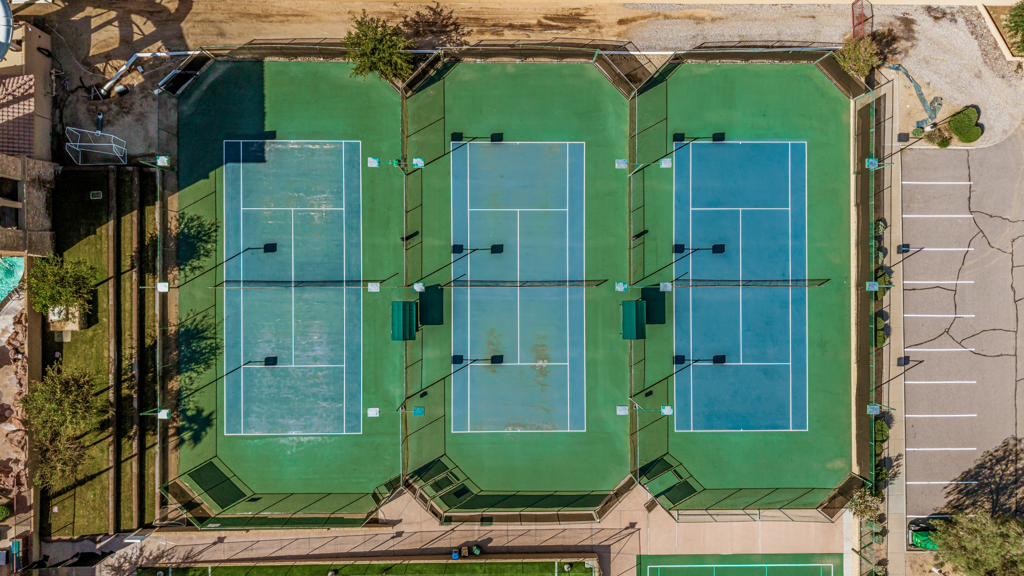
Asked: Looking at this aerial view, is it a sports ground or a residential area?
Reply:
sports ground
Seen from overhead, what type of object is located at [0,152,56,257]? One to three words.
building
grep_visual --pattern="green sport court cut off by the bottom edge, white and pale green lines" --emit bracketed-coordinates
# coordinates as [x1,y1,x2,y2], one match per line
[636,554,844,576]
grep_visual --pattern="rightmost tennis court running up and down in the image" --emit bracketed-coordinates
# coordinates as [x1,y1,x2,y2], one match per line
[630,63,851,509]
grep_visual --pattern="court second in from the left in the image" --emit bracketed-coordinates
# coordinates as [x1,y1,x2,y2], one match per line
[407,62,630,512]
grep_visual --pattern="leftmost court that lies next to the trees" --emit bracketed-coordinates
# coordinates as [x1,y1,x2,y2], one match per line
[178,61,407,516]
